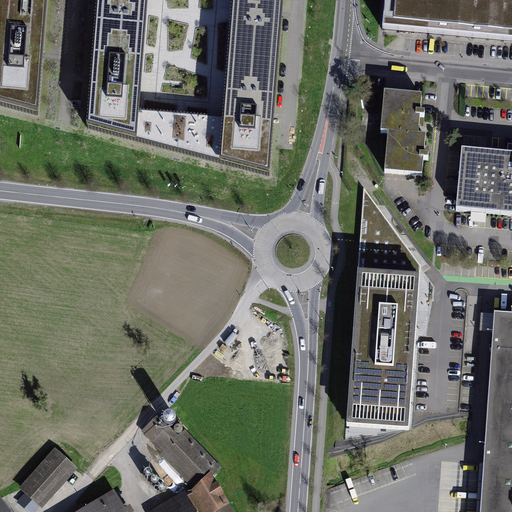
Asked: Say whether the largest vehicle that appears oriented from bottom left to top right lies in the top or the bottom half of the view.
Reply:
bottom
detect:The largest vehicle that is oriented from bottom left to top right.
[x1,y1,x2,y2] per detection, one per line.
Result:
[220,328,240,348]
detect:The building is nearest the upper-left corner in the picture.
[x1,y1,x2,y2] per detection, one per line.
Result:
[0,0,49,114]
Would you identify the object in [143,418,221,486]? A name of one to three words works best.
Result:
barn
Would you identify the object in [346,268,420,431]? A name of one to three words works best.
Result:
building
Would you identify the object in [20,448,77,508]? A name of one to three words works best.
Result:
barn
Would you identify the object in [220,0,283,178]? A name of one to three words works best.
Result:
building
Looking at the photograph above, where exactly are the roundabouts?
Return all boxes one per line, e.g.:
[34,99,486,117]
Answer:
[254,213,332,290]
